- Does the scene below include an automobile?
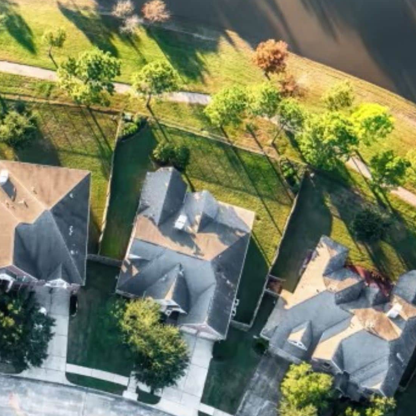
No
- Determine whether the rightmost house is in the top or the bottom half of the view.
bottom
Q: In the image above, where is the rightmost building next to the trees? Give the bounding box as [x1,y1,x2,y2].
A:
[259,235,416,406]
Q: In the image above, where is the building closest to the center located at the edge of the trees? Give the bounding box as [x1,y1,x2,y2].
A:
[116,167,255,346]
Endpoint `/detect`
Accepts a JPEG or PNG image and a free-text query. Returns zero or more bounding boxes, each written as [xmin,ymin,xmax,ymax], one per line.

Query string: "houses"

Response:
[116,167,255,346]
[259,235,416,406]
[0,160,91,295]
